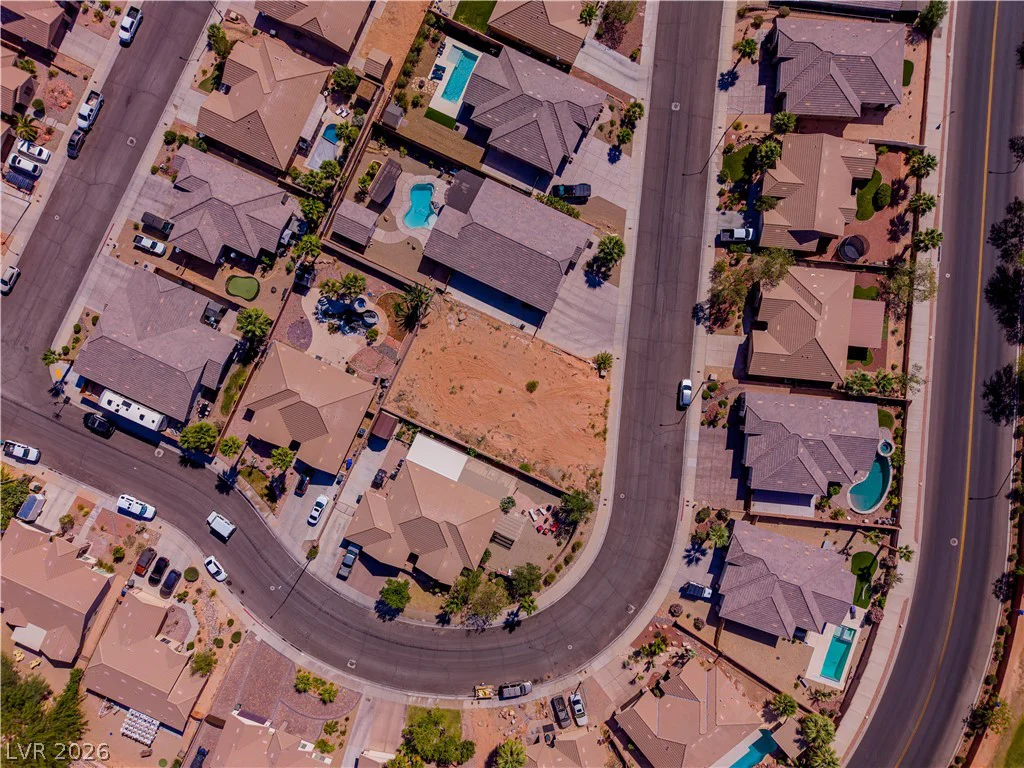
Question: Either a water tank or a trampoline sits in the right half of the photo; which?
trampoline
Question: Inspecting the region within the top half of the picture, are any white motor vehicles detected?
Yes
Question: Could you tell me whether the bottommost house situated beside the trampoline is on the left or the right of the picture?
right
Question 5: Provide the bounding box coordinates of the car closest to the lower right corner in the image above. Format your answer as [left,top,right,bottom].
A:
[683,582,713,599]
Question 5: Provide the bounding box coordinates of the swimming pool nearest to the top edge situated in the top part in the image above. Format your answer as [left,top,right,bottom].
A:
[439,42,481,106]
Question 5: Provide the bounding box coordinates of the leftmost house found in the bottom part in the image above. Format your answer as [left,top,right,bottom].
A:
[0,518,113,647]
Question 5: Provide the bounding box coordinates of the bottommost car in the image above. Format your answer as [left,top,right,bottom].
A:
[189,746,209,768]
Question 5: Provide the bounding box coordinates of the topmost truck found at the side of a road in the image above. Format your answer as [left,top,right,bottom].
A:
[119,5,143,46]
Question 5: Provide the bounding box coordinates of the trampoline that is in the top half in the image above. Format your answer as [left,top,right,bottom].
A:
[837,232,869,259]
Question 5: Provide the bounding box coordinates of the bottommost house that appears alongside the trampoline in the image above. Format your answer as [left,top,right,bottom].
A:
[746,266,856,384]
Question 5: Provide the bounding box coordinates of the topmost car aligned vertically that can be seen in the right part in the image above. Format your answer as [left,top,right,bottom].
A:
[677,379,690,408]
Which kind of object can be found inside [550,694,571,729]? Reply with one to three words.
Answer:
truck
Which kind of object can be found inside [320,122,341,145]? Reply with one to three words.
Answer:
swimming pool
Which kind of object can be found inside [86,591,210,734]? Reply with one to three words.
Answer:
house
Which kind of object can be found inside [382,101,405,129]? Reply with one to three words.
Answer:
building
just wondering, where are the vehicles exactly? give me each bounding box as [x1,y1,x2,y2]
[66,129,89,160]
[677,379,690,408]
[16,140,52,163]
[306,494,330,527]
[114,493,158,520]
[550,694,571,729]
[132,234,166,254]
[0,264,24,294]
[0,438,43,463]
[83,413,117,438]
[149,557,171,585]
[119,5,143,46]
[718,227,754,242]
[8,153,44,178]
[207,512,239,543]
[551,182,590,198]
[683,582,713,599]
[569,693,589,727]
[499,679,533,698]
[78,89,105,131]
[293,471,311,498]
[133,547,157,575]
[138,210,173,234]
[369,467,389,492]
[204,555,228,582]
[189,746,209,768]
[158,568,184,599]
[335,543,360,580]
